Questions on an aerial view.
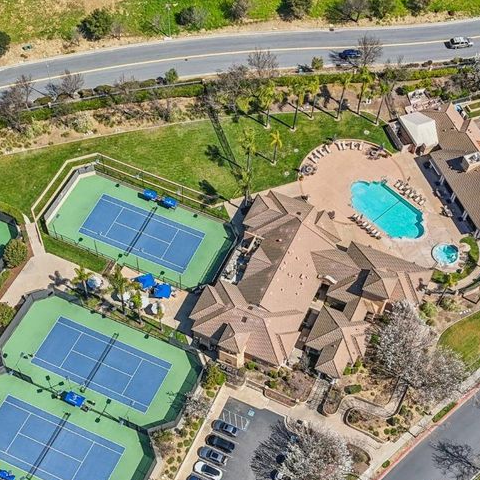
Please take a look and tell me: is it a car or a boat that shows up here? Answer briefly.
car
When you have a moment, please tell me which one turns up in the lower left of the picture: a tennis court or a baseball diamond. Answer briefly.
tennis court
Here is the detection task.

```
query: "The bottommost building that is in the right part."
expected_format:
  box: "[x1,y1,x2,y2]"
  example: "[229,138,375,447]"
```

[189,191,432,382]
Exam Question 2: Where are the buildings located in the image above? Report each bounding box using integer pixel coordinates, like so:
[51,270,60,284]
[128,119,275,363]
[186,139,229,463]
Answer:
[403,99,480,230]
[189,191,432,382]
